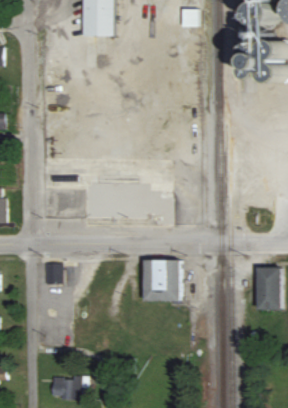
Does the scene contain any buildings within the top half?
Yes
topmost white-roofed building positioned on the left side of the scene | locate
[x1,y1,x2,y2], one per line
[83,0,118,36]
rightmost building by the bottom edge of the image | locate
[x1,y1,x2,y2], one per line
[53,376,94,400]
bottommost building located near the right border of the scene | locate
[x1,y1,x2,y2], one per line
[256,267,286,310]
